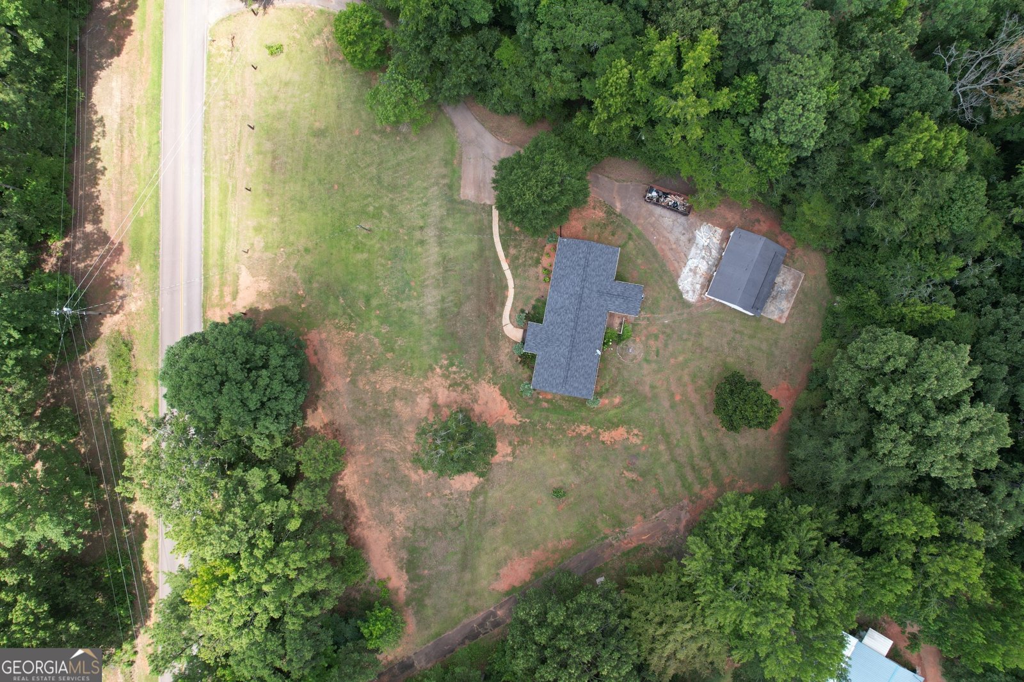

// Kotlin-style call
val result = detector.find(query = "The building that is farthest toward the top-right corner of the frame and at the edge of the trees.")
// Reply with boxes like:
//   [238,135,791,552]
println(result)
[703,227,788,320]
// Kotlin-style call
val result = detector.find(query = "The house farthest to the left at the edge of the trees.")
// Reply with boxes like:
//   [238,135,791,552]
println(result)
[520,238,643,398]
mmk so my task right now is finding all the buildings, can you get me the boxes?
[520,238,643,398]
[703,227,788,320]
[811,632,924,682]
